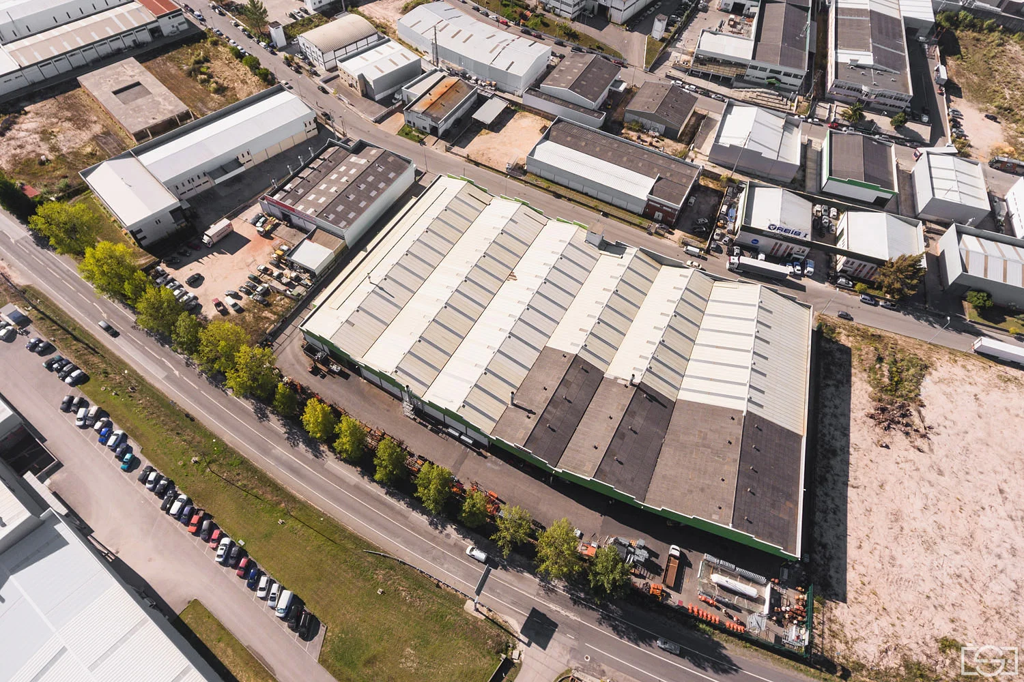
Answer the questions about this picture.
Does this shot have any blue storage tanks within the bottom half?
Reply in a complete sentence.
No, no blue storage tank can be made out within the bottom half.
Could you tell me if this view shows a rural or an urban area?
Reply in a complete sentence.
It looks urban.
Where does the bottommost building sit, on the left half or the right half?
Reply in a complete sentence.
It is on the left.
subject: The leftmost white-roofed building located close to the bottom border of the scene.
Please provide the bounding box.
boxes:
[0,508,224,682]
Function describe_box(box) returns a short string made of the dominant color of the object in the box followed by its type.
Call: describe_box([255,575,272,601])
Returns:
white car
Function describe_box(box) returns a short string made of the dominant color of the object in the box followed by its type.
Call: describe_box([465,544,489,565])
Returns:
white vehicle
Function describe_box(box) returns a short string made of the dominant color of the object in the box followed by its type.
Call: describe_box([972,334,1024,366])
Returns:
white trailer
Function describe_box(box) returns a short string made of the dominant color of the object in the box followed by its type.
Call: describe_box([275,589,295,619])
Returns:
white vehicle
